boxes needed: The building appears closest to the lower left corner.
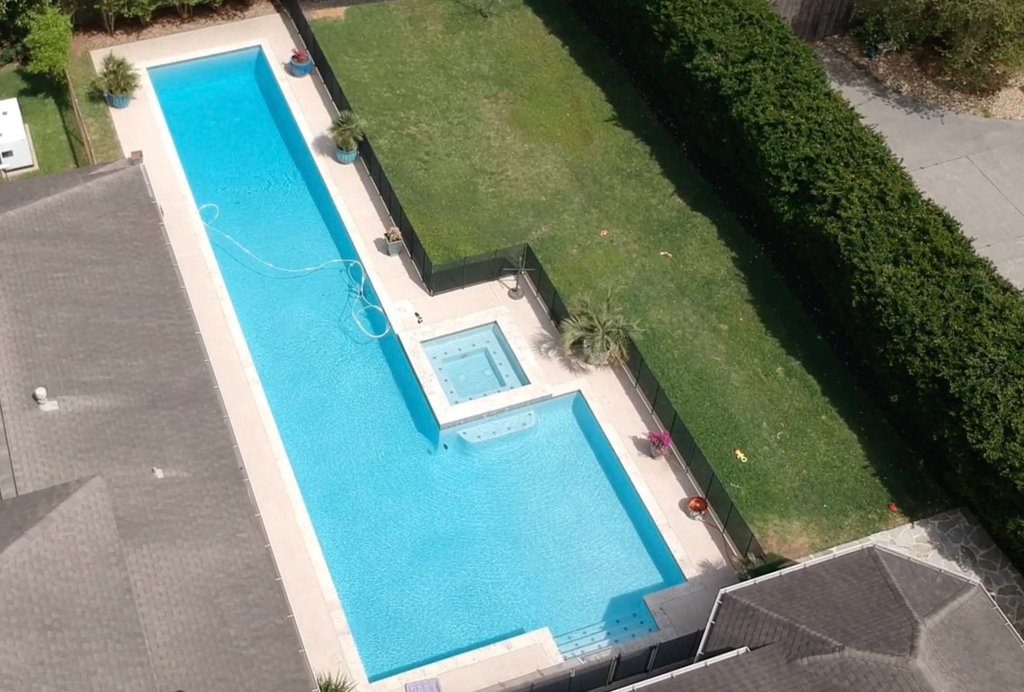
[0,157,321,692]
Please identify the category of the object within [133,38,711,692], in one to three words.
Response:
swimming pool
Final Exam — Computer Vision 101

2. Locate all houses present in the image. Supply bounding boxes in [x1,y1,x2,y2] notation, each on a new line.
[607,538,1024,692]
[0,157,321,692]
